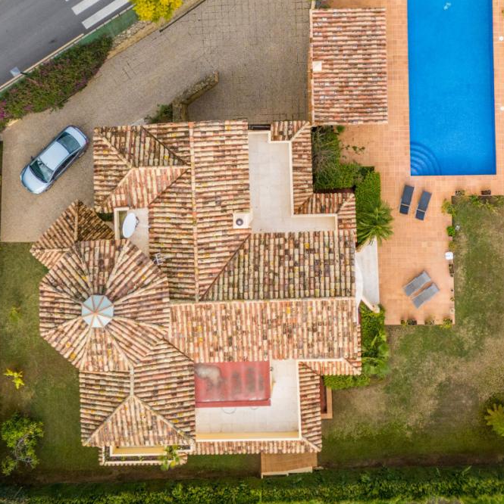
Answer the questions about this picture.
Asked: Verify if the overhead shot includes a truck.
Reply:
No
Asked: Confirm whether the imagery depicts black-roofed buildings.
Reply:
No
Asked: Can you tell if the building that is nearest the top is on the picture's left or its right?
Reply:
right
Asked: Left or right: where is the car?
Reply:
left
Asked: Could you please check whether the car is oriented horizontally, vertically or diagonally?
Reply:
diagonally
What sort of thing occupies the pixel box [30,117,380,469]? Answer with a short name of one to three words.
house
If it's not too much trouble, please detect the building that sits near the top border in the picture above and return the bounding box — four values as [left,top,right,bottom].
[309,7,389,125]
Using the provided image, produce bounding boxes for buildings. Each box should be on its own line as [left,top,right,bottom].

[309,7,389,125]
[30,117,380,469]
